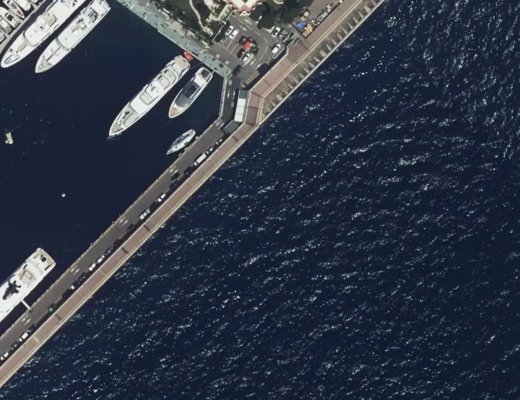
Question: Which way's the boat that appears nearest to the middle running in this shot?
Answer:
diagonally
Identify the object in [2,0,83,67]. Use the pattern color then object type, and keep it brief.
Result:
white boat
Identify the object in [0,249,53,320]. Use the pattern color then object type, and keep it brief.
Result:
white boat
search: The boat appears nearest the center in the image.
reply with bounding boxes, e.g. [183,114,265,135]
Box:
[166,129,196,155]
